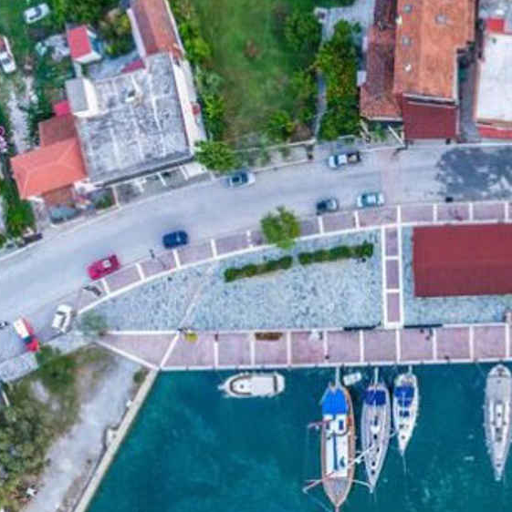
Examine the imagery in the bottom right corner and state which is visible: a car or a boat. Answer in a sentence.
Visible in the bottom right corner is a boat.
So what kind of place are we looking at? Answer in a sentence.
This looks like a residential area.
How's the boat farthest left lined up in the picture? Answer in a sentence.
I'd say the boat farthest left is aligned horizontally in the picture.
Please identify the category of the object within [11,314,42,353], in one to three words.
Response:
vehicle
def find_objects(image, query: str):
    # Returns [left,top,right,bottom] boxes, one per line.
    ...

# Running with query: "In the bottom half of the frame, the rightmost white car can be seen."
[49,304,76,331]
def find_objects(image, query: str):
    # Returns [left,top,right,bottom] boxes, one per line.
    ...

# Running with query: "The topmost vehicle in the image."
[21,1,53,25]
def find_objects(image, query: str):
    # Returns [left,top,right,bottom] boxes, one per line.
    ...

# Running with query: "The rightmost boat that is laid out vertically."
[475,360,512,481]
